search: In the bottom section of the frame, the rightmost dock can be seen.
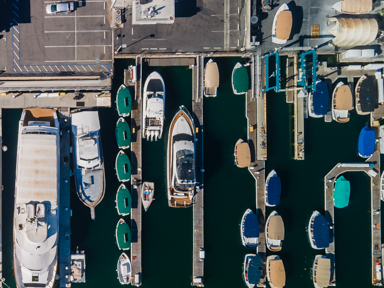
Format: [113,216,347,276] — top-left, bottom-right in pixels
[323,117,381,285]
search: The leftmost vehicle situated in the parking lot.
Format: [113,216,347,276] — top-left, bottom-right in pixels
[45,1,75,15]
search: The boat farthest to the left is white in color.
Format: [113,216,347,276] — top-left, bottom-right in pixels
[12,107,57,288]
